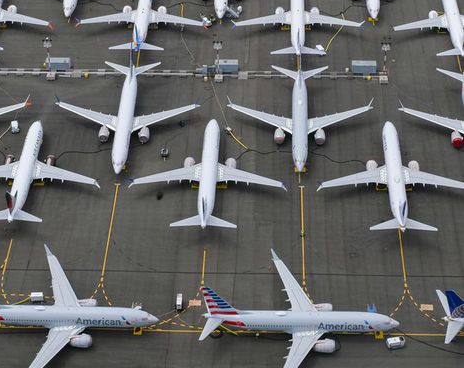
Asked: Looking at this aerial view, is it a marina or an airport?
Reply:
airport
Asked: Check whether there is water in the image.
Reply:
No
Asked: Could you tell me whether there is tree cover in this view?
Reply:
No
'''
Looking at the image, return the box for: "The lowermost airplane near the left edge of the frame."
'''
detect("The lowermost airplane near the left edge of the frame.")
[0,242,159,368]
